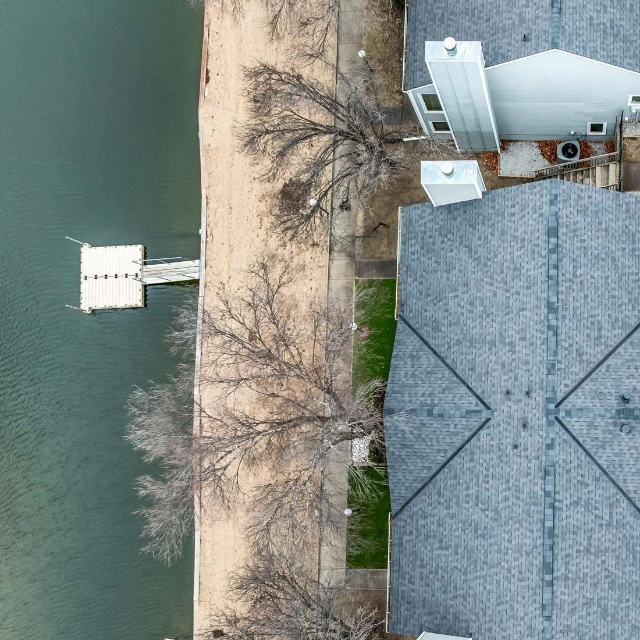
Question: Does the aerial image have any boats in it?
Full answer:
No, the scene contains no boat.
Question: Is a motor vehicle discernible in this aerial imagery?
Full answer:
No, no motor vehicle is visible in the scene.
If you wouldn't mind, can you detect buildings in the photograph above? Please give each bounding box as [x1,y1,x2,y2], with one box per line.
[383,154,640,640]
[403,0,640,154]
